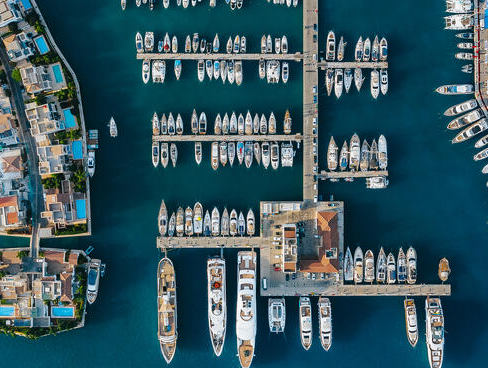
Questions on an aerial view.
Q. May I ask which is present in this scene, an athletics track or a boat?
boat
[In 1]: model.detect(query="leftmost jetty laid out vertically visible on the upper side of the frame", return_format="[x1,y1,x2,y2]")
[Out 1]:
[302,0,318,202]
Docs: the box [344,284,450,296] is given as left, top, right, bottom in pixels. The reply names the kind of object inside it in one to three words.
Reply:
pier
